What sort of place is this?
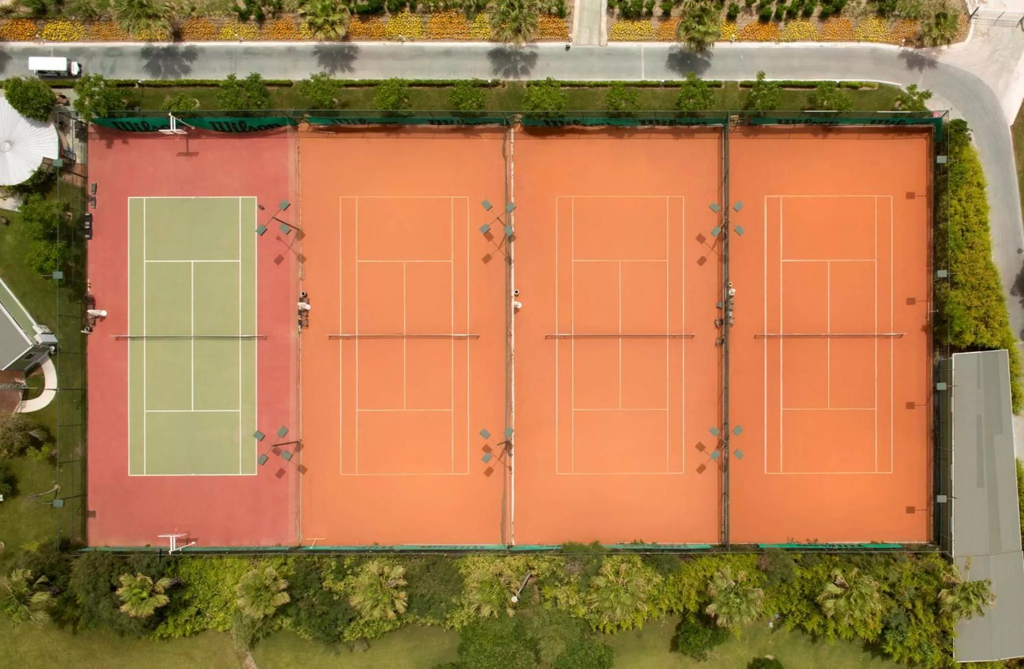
sports ground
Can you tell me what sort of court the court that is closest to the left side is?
tennis court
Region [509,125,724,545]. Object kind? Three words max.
tennis court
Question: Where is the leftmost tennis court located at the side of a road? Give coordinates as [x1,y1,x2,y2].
[87,125,300,545]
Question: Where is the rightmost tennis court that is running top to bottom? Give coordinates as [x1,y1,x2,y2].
[724,125,933,545]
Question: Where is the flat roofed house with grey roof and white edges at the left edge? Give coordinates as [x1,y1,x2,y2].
[0,276,59,373]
